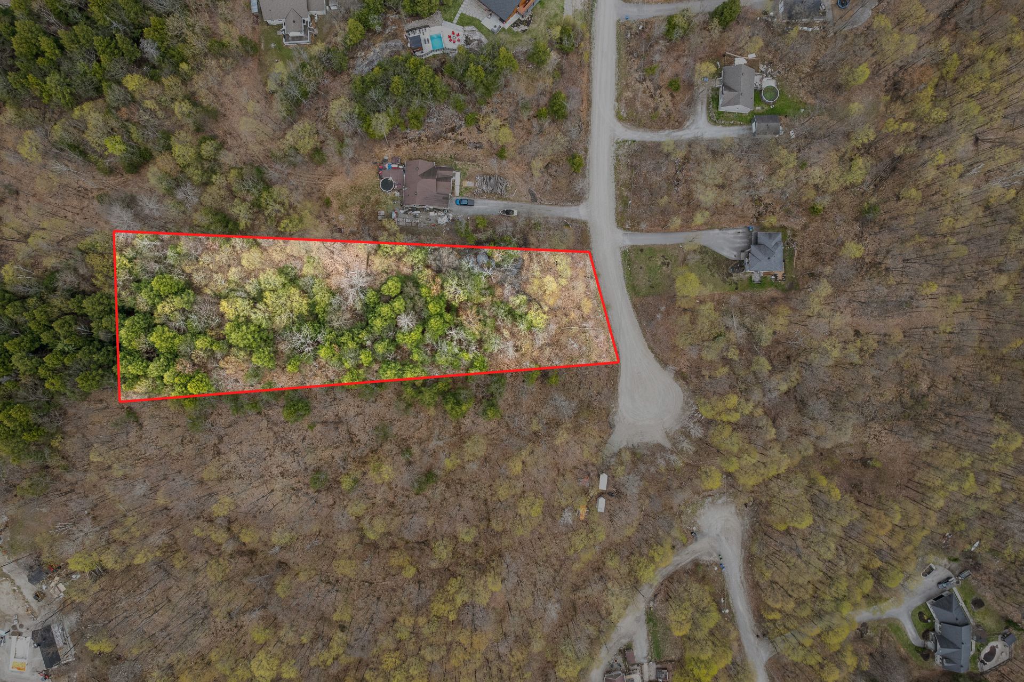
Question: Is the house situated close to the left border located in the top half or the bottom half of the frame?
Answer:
bottom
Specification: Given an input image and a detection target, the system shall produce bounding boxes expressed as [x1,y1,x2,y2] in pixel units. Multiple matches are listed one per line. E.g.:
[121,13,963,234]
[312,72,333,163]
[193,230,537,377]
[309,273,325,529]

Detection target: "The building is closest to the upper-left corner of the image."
[262,0,328,44]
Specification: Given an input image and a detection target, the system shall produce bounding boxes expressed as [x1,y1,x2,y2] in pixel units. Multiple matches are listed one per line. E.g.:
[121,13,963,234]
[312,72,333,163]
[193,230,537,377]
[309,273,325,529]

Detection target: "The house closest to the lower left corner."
[32,615,75,668]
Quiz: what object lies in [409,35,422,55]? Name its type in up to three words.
gazebo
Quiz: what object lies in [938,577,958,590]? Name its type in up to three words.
vehicle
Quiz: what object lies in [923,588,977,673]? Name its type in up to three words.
house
